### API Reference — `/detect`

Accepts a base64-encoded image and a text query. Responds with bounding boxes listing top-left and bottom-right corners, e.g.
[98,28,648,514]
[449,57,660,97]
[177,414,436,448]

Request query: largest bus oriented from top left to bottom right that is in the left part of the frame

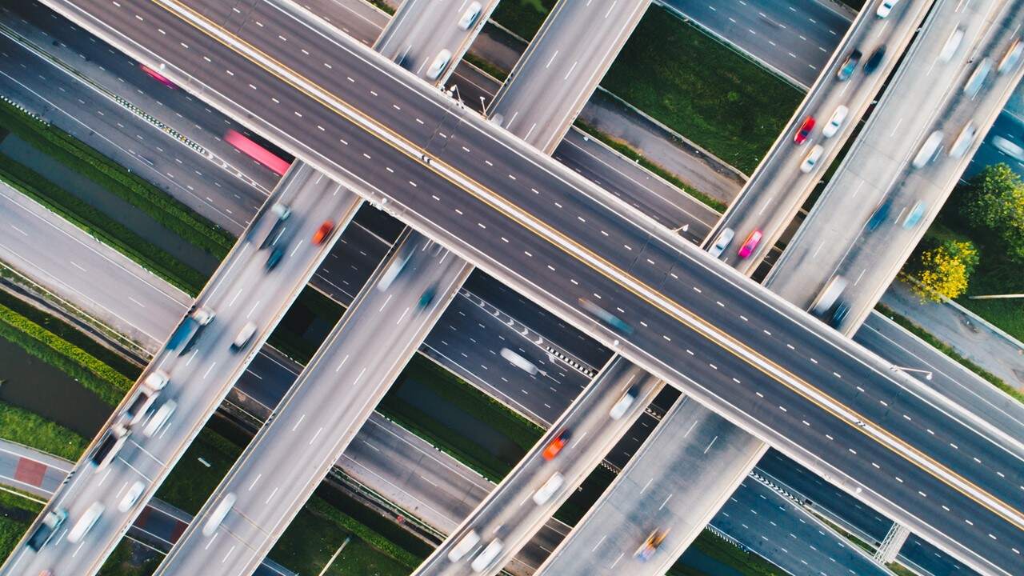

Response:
[223,128,290,177]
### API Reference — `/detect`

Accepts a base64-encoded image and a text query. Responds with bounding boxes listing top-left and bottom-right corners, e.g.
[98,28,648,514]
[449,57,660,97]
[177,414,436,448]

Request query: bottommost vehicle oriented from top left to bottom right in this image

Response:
[504,350,535,374]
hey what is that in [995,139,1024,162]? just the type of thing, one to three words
vehicle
